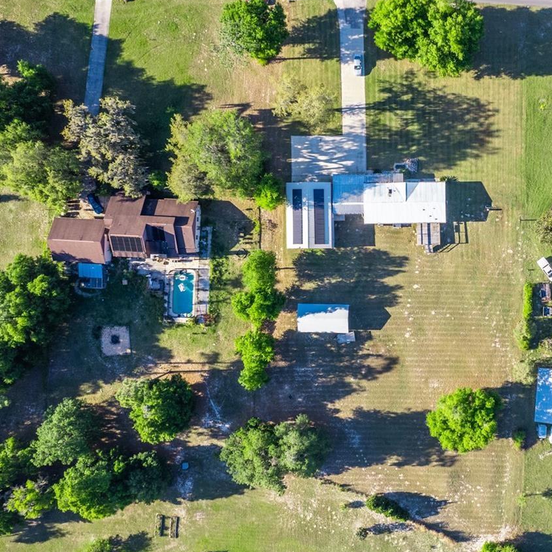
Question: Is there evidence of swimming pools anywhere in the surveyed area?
Yes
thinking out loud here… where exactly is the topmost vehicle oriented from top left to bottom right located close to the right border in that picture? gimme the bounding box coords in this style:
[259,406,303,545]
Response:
[536,256,552,282]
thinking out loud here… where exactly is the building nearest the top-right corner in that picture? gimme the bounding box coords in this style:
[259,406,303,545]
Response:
[332,173,446,223]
